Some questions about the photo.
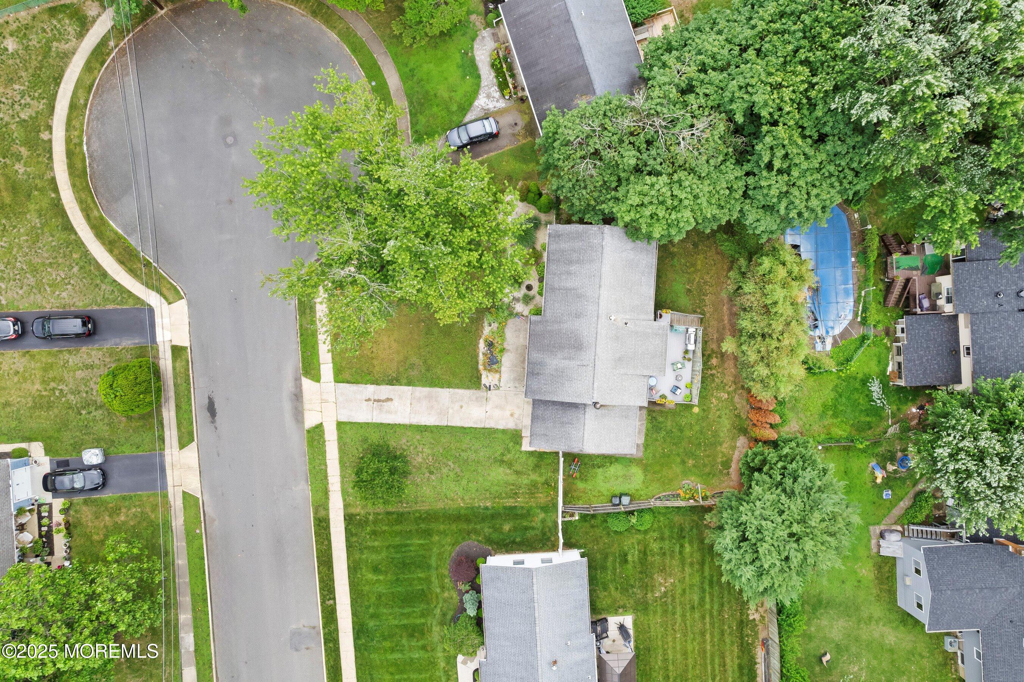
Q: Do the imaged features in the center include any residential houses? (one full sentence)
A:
Yes, you'll find a residential house in the center.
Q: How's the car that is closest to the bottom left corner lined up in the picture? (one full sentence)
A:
The car that is closest to the bottom left corner runs horizontally in the image.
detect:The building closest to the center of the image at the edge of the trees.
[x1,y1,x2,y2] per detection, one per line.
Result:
[523,225,671,455]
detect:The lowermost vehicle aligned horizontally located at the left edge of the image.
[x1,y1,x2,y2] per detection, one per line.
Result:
[40,466,110,496]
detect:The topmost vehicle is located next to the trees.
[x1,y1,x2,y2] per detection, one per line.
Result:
[444,115,503,151]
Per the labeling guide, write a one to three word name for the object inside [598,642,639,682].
gazebo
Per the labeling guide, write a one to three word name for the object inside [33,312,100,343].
car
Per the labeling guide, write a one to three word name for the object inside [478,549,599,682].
house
